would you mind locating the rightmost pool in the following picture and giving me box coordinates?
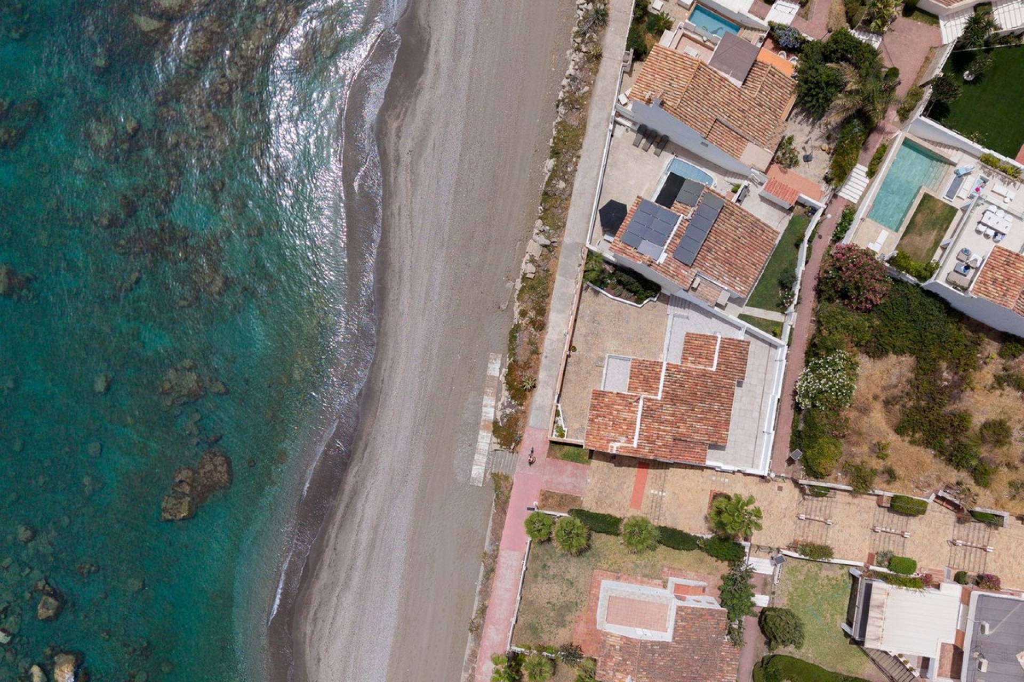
[860,131,961,240]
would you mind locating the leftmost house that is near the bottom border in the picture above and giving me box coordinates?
[594,575,741,682]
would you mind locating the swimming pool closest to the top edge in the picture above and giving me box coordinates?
[681,0,746,38]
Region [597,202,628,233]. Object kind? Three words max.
umbrella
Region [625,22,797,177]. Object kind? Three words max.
house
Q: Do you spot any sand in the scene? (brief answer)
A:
Yes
